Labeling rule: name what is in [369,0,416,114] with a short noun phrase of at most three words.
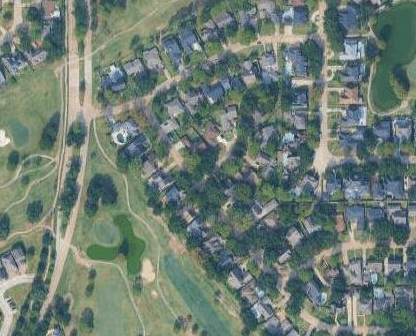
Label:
pond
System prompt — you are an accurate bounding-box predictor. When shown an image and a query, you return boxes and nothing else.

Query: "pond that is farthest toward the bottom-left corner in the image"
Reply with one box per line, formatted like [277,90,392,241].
[83,210,149,278]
